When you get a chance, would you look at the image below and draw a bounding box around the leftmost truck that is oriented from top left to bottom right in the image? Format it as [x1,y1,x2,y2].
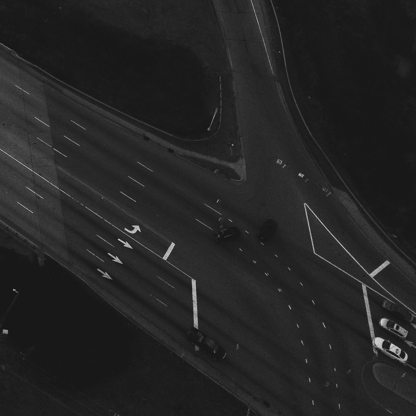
[179,319,234,368]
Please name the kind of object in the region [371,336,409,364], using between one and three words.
car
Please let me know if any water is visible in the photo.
No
